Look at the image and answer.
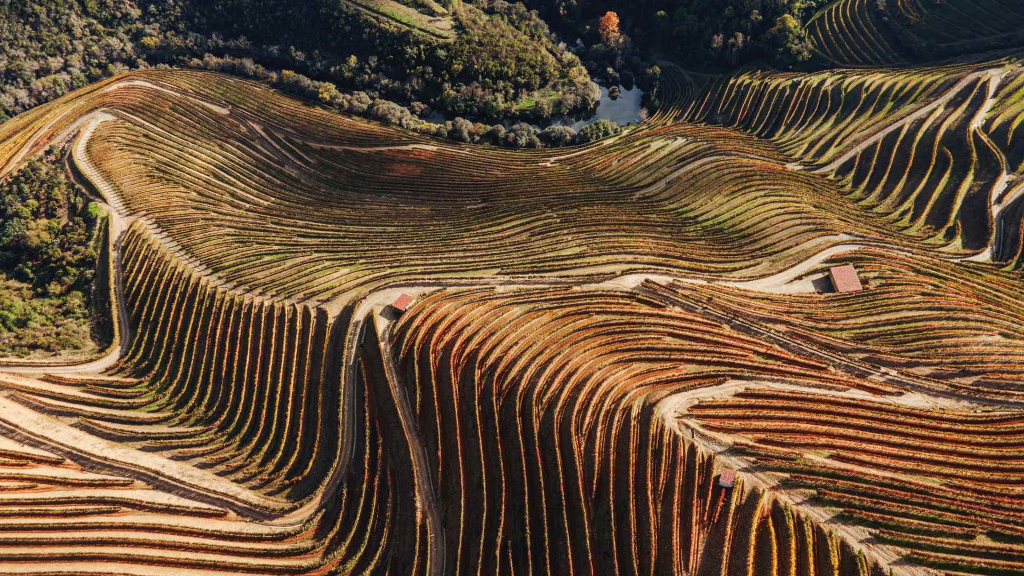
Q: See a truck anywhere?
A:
No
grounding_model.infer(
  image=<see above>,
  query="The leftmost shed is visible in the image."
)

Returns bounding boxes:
[393,292,414,313]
